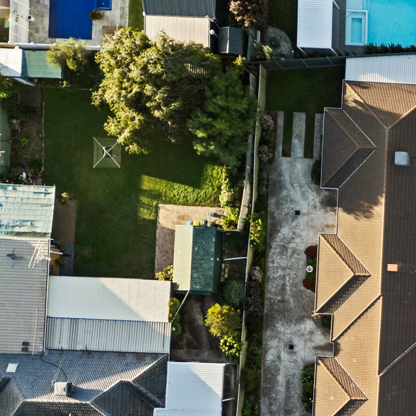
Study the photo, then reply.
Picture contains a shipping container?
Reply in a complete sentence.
No, no shipping container is visible in the view.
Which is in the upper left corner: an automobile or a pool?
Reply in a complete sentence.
You can see a pool in the upper left corner.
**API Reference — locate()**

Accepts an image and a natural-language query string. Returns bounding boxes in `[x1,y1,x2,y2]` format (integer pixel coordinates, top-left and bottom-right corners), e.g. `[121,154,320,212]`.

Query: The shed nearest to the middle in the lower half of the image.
[172,225,230,293]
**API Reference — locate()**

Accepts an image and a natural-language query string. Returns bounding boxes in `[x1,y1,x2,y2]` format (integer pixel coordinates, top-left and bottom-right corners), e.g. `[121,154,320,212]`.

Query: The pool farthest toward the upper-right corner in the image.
[346,0,416,47]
